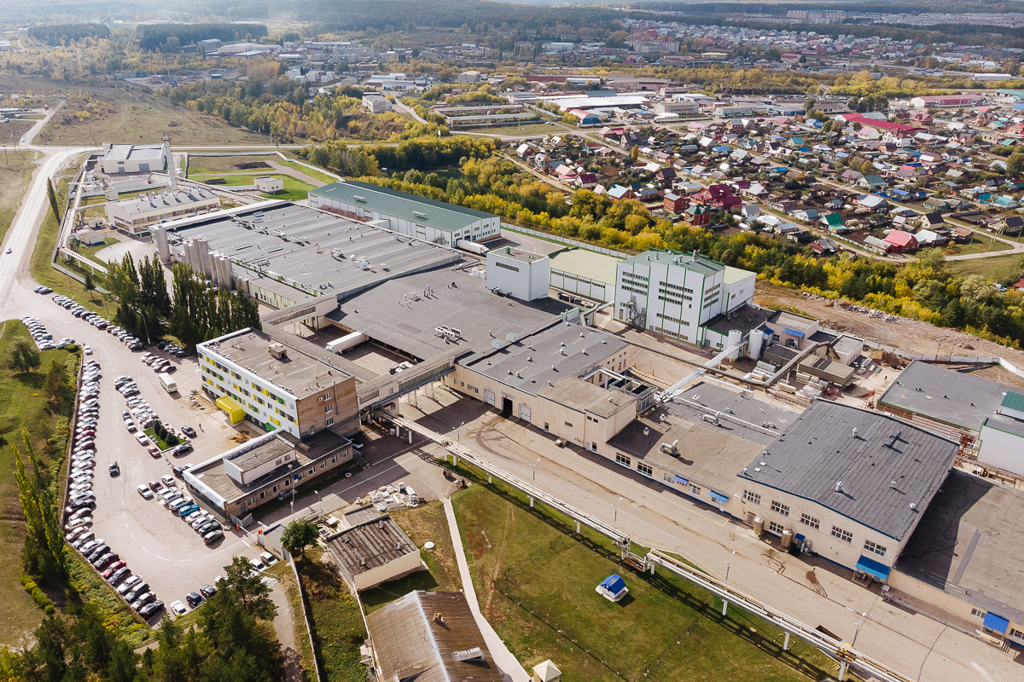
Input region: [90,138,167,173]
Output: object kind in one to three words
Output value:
building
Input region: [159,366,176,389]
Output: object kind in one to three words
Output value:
vehicle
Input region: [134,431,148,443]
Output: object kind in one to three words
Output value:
vehicle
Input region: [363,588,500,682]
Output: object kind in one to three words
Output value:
house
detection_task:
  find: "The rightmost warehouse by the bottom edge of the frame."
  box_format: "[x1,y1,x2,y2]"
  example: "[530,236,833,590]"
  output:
[883,467,1024,660]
